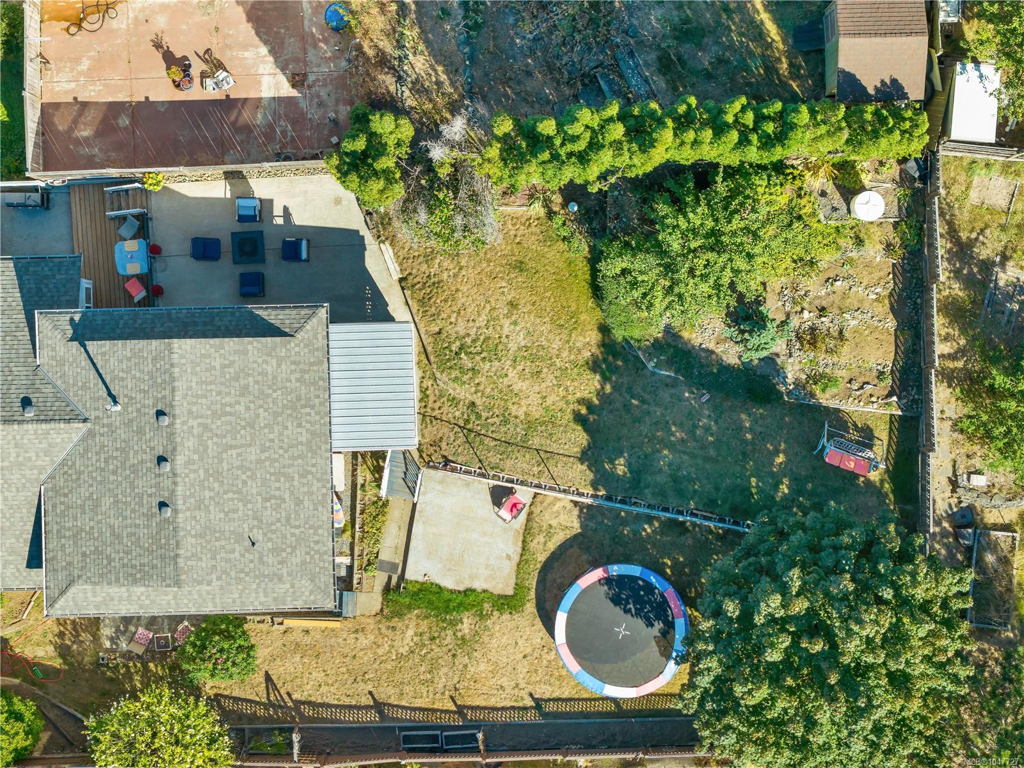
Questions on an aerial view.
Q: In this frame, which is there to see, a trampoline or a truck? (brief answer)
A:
trampoline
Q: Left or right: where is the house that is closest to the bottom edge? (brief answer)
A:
left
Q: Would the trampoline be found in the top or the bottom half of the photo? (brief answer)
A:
bottom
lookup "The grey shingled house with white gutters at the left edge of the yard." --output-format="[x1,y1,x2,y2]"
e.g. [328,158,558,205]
[0,252,340,620]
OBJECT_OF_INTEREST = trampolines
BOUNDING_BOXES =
[554,561,689,698]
